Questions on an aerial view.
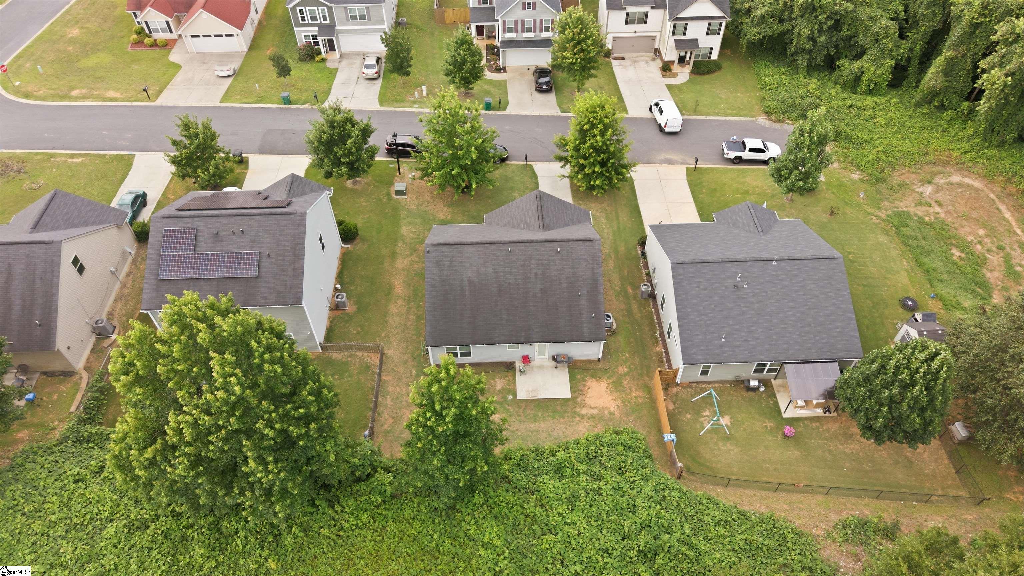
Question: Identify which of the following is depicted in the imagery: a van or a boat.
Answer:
van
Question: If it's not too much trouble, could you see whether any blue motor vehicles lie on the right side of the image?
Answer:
No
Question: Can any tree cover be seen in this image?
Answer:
Yes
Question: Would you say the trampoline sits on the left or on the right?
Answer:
right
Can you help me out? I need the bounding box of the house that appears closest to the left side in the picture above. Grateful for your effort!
[0,188,131,373]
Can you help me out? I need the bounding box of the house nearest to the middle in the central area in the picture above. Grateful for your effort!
[423,190,608,364]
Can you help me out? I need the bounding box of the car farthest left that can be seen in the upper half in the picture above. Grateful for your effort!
[114,186,151,224]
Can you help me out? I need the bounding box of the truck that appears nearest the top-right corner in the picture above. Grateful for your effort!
[723,137,785,165]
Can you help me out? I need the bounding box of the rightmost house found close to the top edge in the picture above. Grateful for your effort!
[596,0,733,73]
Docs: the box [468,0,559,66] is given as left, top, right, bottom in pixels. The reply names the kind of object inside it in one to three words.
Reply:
house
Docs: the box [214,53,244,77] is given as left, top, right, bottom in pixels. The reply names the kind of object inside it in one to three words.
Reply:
car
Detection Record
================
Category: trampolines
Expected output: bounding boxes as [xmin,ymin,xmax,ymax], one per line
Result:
[900,291,921,311]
